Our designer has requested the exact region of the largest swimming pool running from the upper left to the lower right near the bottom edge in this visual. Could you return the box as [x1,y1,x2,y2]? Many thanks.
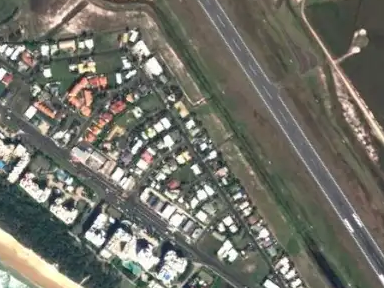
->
[123,260,143,276]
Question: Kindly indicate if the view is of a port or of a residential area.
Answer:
residential area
